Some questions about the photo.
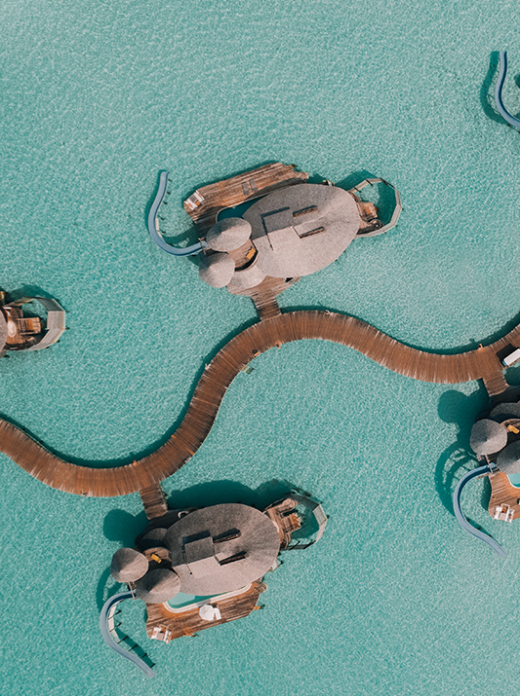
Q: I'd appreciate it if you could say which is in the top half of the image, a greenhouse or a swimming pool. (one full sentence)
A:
The one visible in the top half of the image is a swimming pool.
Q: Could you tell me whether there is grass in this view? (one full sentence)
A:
No, the scene doesn't show any grass.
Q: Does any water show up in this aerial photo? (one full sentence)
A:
Yes, there's water in this view.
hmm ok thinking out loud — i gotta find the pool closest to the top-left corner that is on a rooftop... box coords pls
[214,195,265,223]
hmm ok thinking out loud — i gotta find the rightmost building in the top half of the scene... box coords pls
[178,165,385,323]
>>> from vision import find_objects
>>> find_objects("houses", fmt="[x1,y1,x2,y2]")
[471,366,520,521]
[109,485,311,643]
[0,301,46,363]
[178,165,385,323]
